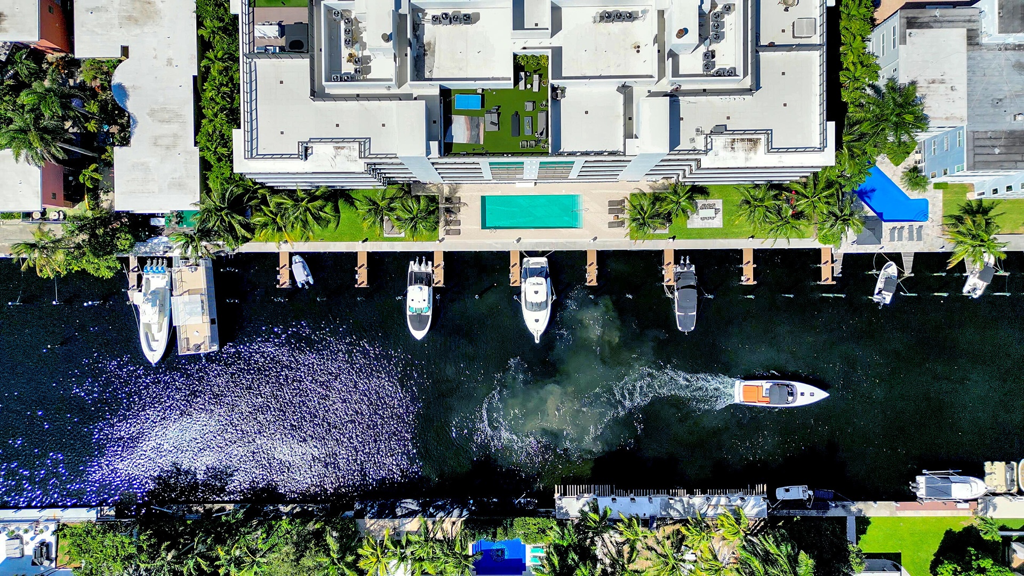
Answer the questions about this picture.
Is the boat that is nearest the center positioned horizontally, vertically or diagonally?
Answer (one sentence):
What the image shows is the boat that is nearest the center lying vertically.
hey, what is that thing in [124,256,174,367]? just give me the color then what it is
white boat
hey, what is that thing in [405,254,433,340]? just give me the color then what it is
white boat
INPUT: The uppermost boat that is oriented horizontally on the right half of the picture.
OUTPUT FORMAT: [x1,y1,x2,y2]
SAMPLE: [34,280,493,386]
[732,380,829,406]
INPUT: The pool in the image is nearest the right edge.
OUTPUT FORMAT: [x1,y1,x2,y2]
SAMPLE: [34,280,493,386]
[851,163,935,225]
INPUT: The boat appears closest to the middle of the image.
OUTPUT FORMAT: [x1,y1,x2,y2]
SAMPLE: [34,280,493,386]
[521,257,553,343]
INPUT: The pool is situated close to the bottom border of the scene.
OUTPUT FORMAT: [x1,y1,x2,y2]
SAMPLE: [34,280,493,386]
[469,536,528,576]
